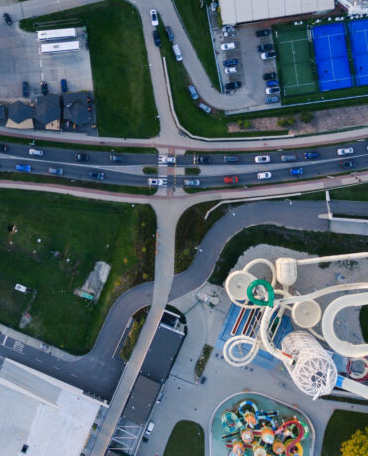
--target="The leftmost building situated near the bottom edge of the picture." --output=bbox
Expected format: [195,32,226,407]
[0,352,109,456]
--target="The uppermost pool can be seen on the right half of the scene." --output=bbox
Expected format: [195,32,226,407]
[217,301,293,373]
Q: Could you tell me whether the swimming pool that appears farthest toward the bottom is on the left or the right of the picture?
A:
right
